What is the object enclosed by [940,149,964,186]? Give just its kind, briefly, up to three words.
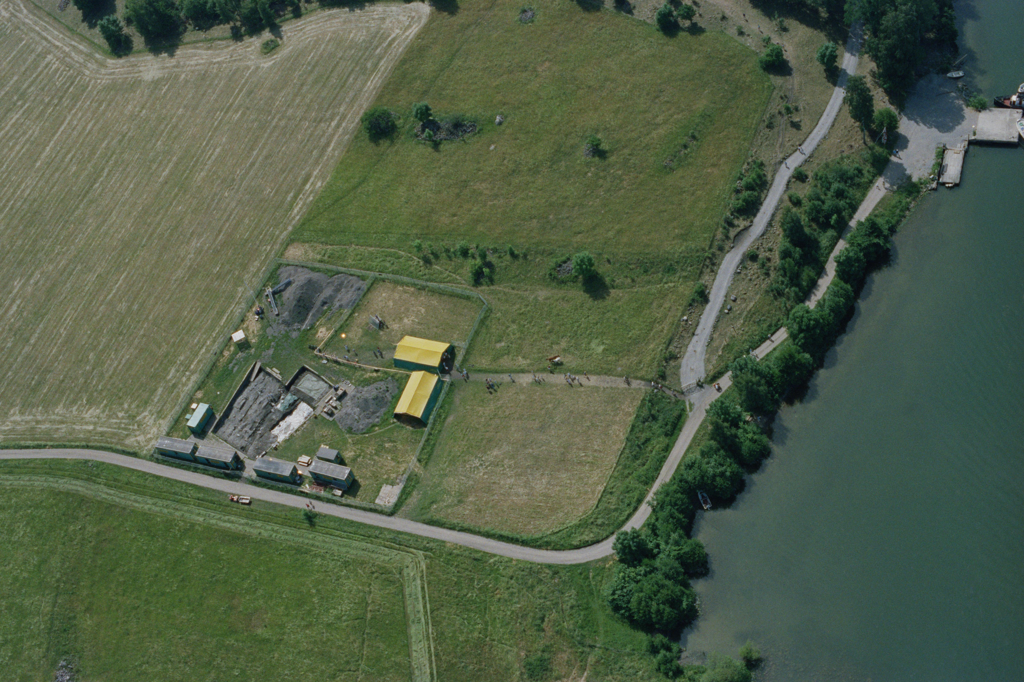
pier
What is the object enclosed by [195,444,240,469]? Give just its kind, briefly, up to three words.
building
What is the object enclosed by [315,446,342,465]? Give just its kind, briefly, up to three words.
building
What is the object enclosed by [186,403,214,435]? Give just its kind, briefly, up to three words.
shipping container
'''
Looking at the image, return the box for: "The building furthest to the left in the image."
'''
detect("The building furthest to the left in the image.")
[154,436,198,461]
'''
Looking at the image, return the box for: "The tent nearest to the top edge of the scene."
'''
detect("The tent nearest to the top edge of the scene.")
[394,336,452,373]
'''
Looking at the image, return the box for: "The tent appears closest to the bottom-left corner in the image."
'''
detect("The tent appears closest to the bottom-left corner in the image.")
[394,371,441,424]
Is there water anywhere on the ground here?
Yes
